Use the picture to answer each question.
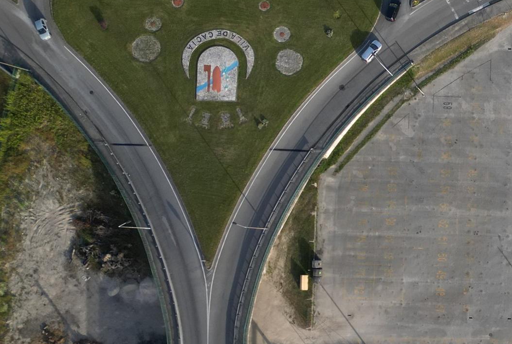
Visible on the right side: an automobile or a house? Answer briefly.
automobile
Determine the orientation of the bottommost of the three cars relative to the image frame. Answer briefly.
on a diagonal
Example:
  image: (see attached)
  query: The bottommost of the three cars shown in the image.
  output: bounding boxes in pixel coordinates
[359,38,383,63]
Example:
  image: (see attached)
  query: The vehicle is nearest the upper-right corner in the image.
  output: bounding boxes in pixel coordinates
[384,0,398,23]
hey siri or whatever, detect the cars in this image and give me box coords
[384,0,398,23]
[359,38,383,63]
[31,15,49,39]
